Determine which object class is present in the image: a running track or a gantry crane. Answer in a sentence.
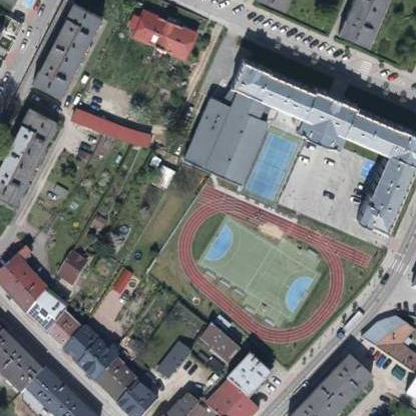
The image shows a running track.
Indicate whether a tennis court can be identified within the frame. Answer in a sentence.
Yes, a tennis court appears in the view.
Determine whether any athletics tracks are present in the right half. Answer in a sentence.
Yes, you'll find an athletics track in the right half.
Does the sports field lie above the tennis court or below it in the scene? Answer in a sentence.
It's below the tennis court that the sports field shows up.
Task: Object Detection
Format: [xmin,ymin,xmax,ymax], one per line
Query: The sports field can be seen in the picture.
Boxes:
[199,216,320,326]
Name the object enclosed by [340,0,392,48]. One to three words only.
building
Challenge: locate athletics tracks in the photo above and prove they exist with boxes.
[179,183,371,343]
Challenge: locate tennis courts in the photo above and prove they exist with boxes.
[240,128,303,206]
